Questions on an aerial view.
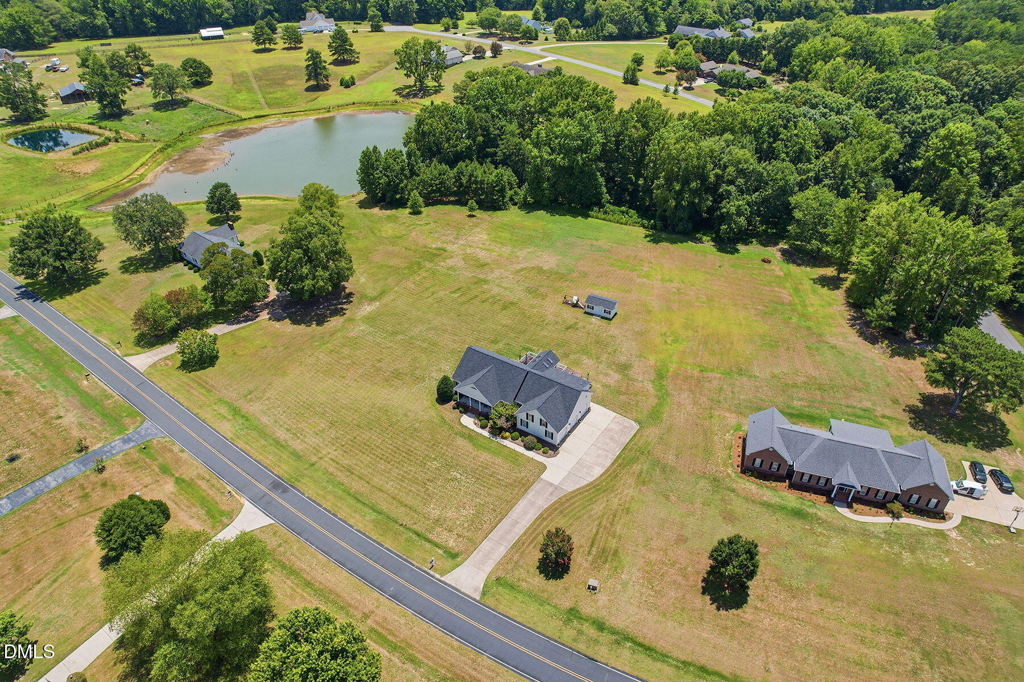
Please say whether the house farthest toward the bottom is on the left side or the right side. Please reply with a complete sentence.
The house farthest toward the bottom sits on the right side.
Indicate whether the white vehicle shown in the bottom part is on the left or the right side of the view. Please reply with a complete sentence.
The white vehicle shown in the bottom part appears in the right half of the scene.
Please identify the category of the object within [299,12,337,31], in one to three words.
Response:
house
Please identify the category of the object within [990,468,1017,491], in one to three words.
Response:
car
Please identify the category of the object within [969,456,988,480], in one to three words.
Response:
car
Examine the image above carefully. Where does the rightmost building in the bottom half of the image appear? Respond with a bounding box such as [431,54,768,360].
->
[745,407,955,512]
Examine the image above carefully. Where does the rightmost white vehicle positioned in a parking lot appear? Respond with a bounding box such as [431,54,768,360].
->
[953,474,999,496]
